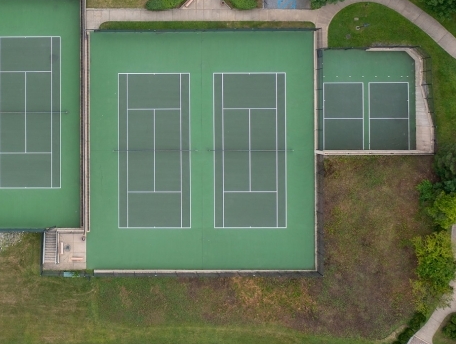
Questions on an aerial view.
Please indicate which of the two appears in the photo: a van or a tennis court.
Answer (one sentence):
It is a tennis court that can be seen here.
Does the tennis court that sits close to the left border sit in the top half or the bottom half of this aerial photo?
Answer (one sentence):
You can find the tennis court that sits close to the left border in the top half.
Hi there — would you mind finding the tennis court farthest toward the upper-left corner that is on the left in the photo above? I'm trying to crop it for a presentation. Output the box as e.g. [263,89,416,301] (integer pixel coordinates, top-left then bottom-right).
[0,37,61,188]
